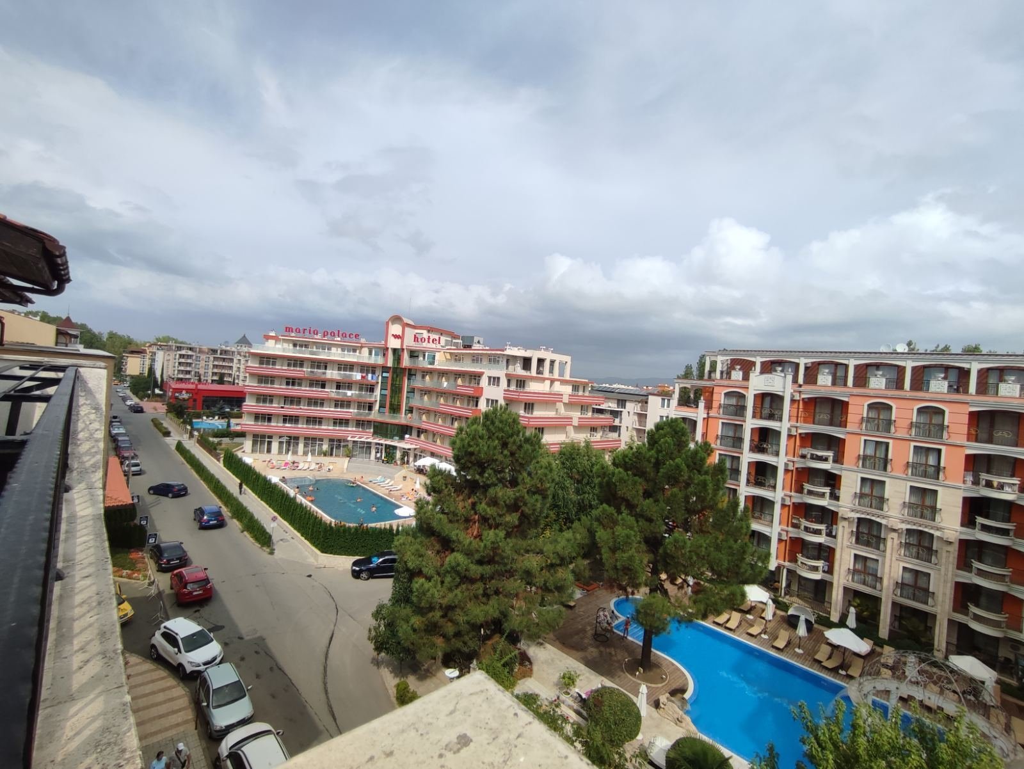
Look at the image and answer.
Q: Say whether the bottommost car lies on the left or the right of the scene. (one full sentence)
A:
It is on the left.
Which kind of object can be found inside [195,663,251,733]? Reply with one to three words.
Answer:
car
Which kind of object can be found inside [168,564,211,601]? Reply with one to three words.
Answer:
car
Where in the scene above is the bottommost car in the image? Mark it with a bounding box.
[217,715,295,769]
